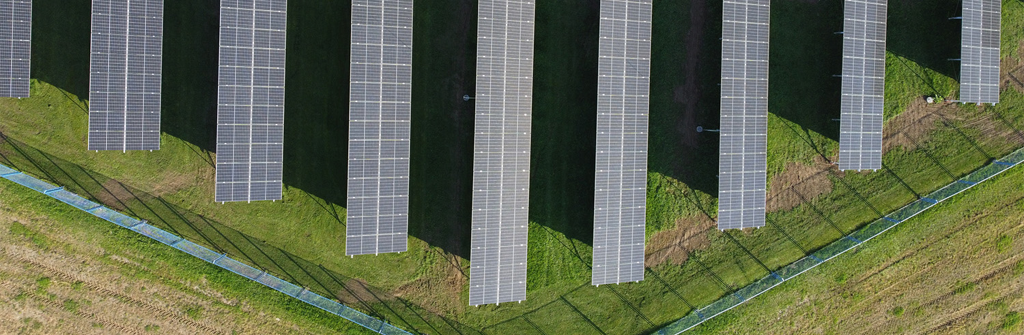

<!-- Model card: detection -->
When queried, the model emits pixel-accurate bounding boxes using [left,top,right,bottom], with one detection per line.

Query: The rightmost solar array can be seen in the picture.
[946,0,1002,107]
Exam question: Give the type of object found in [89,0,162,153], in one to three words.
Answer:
solar array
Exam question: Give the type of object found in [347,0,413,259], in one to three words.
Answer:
solar array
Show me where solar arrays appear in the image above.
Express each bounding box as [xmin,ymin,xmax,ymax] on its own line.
[216,0,286,205]
[592,0,653,288]
[829,0,888,173]
[946,0,1002,107]
[347,0,413,259]
[89,0,162,153]
[470,0,535,308]
[0,0,31,100]
[714,0,772,232]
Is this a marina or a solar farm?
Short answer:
solar farm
